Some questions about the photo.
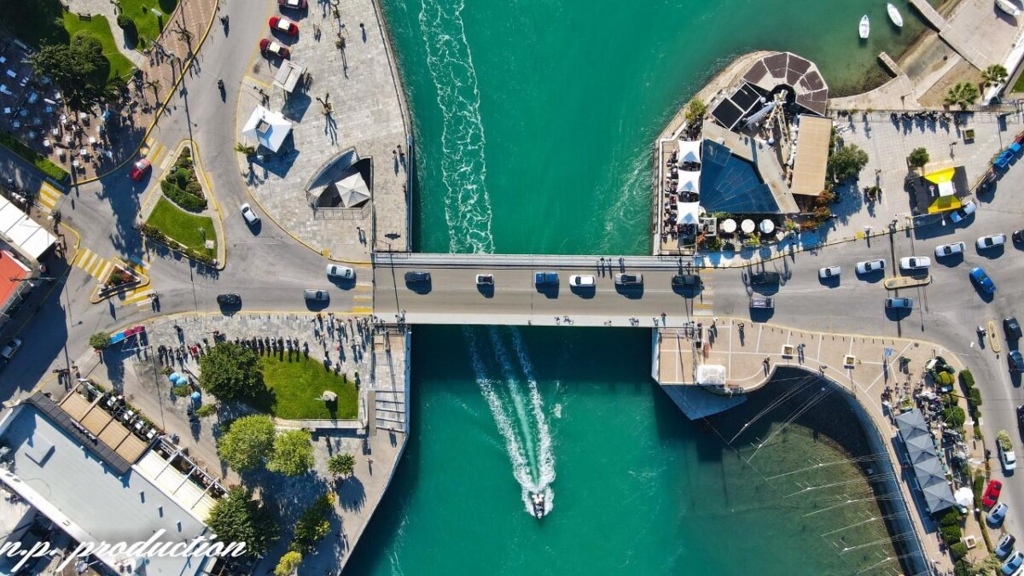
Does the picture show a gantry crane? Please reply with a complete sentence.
No, there appears to be no gantry crane in this shot.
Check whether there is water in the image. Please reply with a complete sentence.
Yes, there's water in this view.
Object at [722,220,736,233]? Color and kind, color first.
white umbrella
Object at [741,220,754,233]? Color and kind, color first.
white umbrella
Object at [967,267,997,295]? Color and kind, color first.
blue car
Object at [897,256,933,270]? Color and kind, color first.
white vehicle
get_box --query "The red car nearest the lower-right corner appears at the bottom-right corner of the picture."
[983,479,1001,508]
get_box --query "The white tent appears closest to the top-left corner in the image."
[247,107,299,157]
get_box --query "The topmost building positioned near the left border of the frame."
[0,236,65,360]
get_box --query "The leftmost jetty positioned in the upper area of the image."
[826,52,914,108]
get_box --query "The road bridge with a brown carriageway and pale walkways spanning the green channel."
[372,253,695,328]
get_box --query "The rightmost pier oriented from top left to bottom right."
[903,0,949,35]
